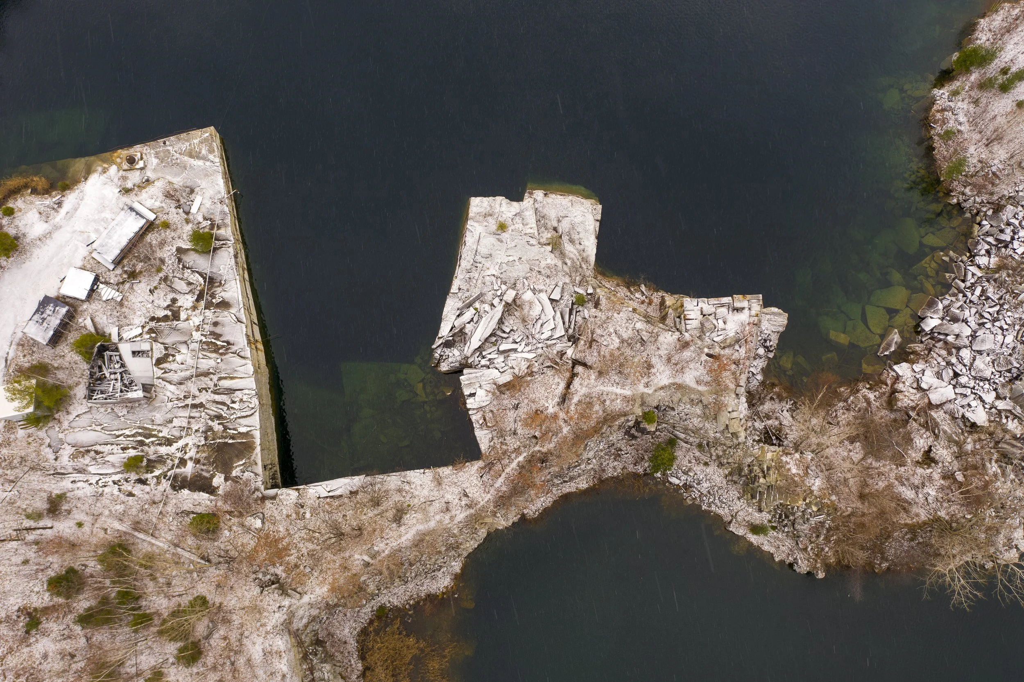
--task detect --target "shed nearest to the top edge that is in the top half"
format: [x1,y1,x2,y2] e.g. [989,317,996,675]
[90,201,161,271]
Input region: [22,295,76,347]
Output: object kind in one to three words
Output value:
shed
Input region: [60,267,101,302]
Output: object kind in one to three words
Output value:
shed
